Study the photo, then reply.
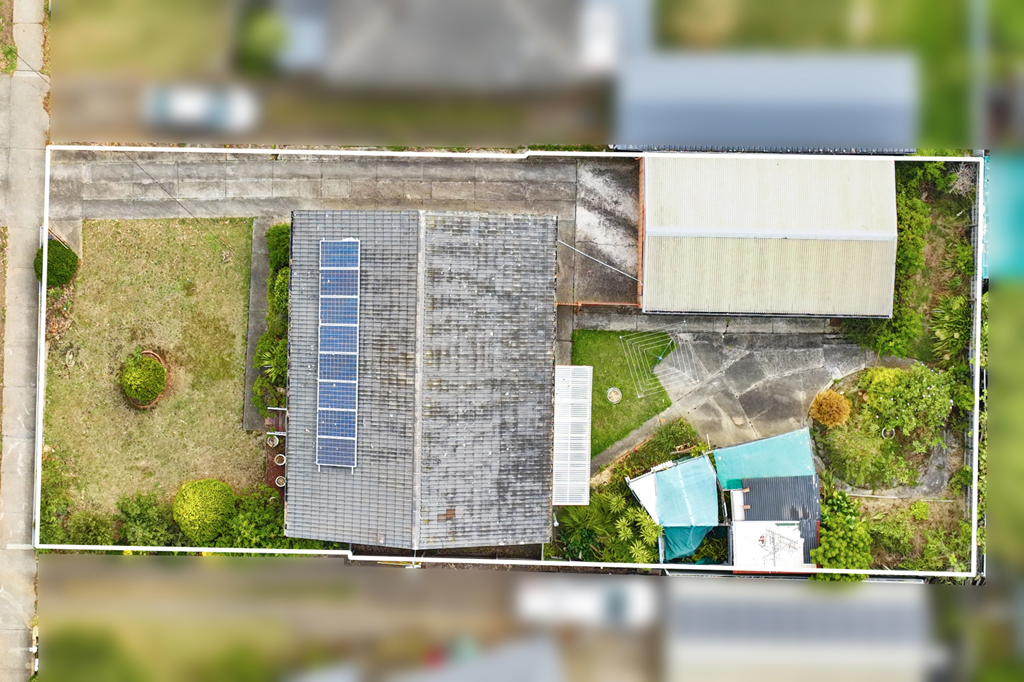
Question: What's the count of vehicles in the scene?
two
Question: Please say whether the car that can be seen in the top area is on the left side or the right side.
left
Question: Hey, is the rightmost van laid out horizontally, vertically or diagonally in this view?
horizontally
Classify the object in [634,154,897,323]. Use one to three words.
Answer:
building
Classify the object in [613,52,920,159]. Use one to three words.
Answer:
building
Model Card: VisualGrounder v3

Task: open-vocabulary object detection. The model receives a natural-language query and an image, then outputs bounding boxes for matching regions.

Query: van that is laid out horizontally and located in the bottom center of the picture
[515,577,655,634]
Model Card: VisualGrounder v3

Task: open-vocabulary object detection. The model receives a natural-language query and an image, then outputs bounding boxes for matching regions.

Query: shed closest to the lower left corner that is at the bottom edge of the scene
[295,651,365,682]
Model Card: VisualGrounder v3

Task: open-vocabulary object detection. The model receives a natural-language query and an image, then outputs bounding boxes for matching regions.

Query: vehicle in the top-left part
[143,80,260,134]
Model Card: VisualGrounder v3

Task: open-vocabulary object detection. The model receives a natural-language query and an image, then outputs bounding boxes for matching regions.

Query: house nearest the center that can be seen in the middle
[281,208,560,548]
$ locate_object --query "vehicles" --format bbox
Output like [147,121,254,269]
[515,577,655,634]
[143,80,260,134]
